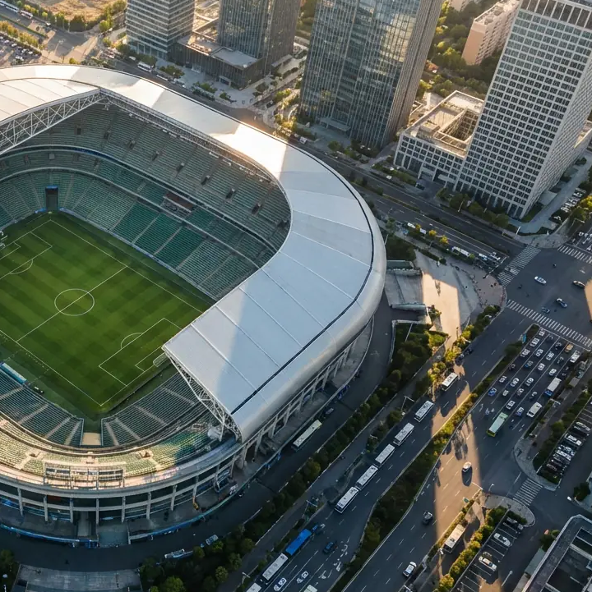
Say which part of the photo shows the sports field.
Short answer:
left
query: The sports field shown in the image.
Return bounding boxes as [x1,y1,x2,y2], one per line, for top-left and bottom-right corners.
[0,216,207,415]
